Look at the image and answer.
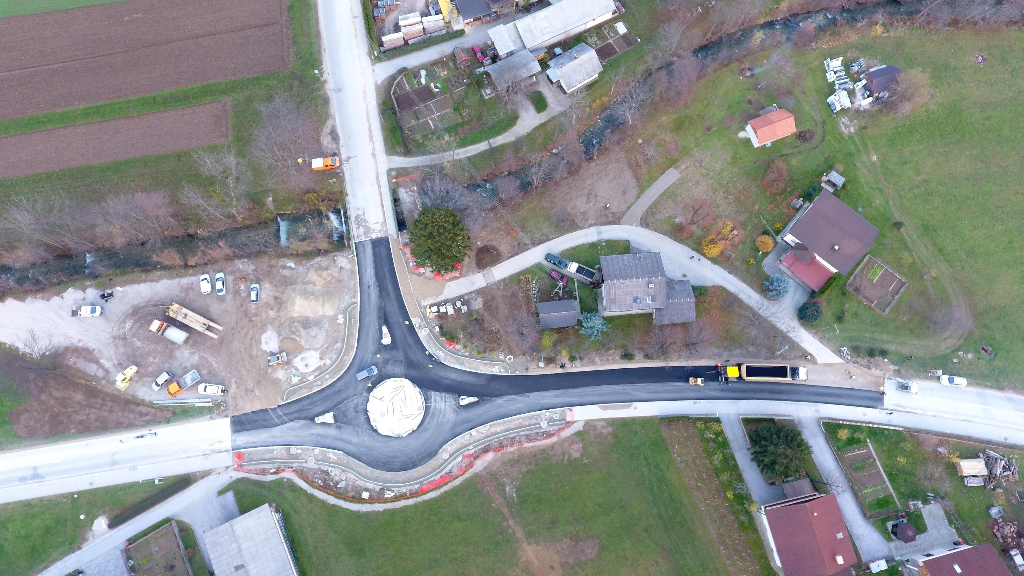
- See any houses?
Yes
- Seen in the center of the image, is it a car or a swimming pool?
car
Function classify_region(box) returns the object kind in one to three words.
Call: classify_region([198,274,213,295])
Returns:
car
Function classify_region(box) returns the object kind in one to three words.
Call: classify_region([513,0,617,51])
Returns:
building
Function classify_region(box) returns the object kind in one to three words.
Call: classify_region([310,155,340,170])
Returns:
vehicle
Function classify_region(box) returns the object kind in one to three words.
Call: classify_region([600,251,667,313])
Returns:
house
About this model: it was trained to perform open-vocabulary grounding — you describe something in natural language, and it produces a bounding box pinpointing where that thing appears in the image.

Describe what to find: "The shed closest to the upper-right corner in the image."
[860,64,902,95]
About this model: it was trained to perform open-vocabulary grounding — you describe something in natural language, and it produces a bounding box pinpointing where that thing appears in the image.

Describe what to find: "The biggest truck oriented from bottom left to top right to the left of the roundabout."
[165,368,202,399]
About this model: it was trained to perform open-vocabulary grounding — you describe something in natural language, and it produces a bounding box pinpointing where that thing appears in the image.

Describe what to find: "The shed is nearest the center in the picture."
[537,299,577,330]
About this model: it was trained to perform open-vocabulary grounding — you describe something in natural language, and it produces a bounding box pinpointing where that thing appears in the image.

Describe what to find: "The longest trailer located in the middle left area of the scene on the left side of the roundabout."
[163,302,224,341]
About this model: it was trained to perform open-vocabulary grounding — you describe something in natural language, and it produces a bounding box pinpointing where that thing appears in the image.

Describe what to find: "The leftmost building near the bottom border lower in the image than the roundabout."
[202,502,297,576]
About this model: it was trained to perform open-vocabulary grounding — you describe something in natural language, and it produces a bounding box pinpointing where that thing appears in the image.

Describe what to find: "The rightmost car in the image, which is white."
[939,373,967,386]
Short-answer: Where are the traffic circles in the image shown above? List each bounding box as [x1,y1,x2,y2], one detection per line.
[230,236,884,472]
